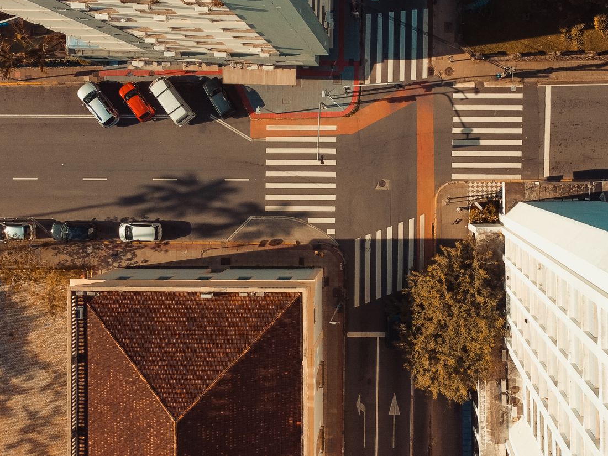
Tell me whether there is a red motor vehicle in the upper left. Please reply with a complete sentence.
Yes, I can see a red motor vehicle in the upper left.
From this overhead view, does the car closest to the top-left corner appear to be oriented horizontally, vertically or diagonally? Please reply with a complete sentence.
I'd say the car closest to the top-left corner is aligned diagonally in the picture.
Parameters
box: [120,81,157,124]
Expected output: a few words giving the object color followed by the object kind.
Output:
red car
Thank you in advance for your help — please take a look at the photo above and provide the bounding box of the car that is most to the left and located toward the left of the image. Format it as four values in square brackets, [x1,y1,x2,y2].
[0,221,39,242]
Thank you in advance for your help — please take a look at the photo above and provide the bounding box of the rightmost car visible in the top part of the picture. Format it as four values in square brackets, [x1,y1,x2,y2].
[203,74,240,122]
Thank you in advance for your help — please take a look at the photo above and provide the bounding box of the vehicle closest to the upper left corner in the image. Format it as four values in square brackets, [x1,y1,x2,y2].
[78,81,122,130]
